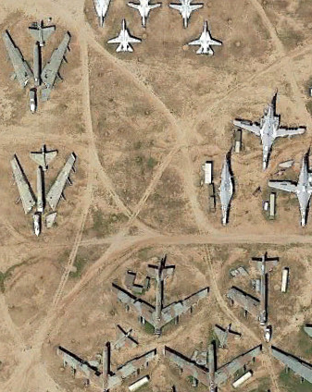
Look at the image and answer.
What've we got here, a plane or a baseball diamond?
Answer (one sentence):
There is a plane in the scene.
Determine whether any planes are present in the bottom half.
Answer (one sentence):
Yes, in the bottom half there is a plane.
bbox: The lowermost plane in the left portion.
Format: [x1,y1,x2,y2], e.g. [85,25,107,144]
[58,344,155,392]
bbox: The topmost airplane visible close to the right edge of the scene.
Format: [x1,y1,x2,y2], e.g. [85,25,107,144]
[233,97,305,171]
